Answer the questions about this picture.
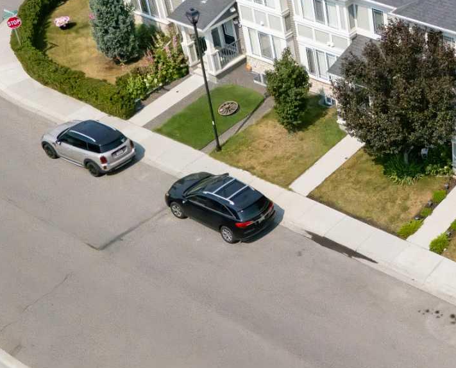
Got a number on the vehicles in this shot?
2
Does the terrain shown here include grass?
Yes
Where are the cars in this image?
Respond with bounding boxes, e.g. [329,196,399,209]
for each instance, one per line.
[42,117,135,181]
[162,172,275,248]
